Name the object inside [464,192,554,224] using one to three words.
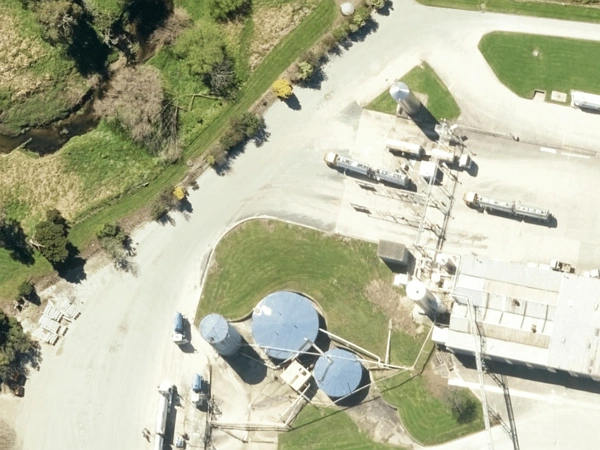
truck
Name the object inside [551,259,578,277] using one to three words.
vehicle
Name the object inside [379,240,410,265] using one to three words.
shed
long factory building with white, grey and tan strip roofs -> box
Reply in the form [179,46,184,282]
[443,253,600,381]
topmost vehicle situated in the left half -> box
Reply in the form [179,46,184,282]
[174,312,188,344]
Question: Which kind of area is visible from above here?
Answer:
industrial area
